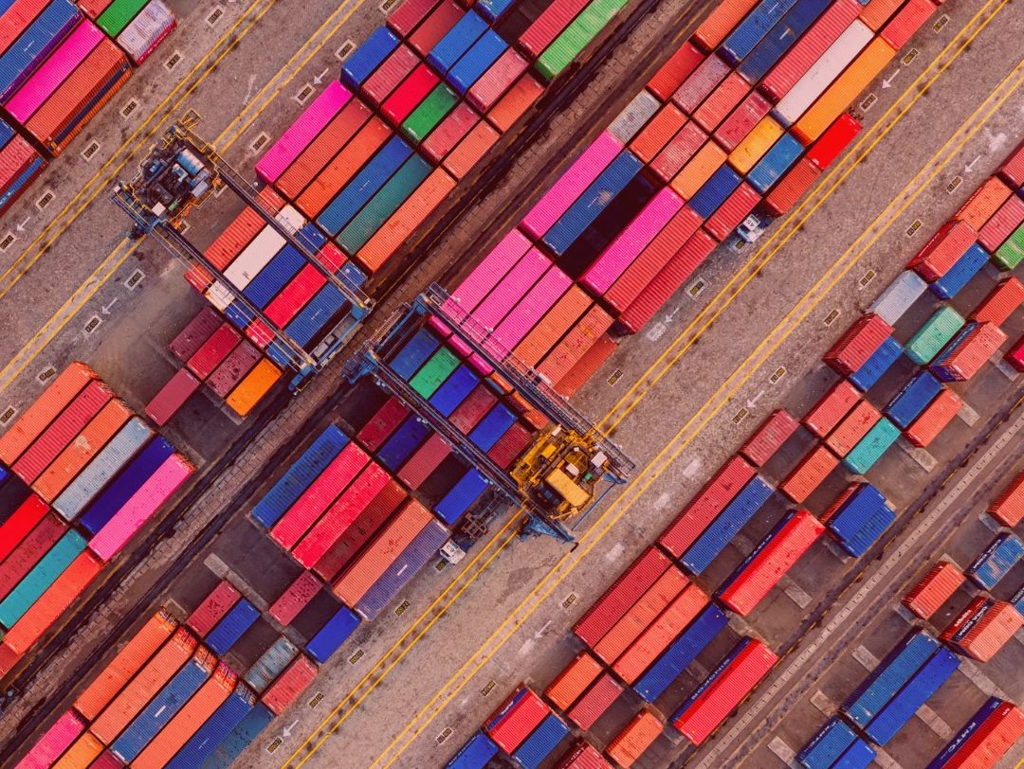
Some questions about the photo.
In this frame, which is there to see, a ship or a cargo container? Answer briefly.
cargo container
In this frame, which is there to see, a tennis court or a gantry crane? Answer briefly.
gantry crane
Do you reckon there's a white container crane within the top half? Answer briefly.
No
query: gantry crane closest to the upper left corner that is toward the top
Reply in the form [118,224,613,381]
[100,100,380,397]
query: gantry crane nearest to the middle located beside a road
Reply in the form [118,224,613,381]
[339,269,642,553]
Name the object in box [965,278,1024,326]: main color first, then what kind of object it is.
red shipping container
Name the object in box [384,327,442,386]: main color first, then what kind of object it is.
blue shipping container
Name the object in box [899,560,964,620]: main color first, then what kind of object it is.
red shipping container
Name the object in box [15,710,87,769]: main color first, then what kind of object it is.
pink shipping container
